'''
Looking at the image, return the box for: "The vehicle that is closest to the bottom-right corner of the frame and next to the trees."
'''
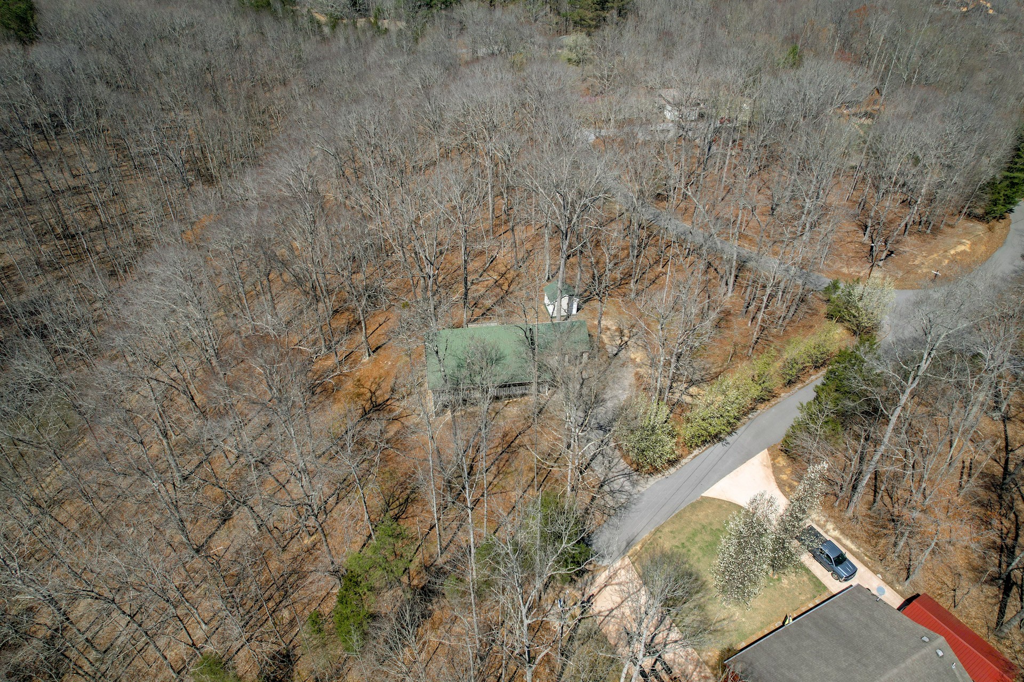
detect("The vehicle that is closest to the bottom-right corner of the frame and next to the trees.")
[796,524,856,583]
